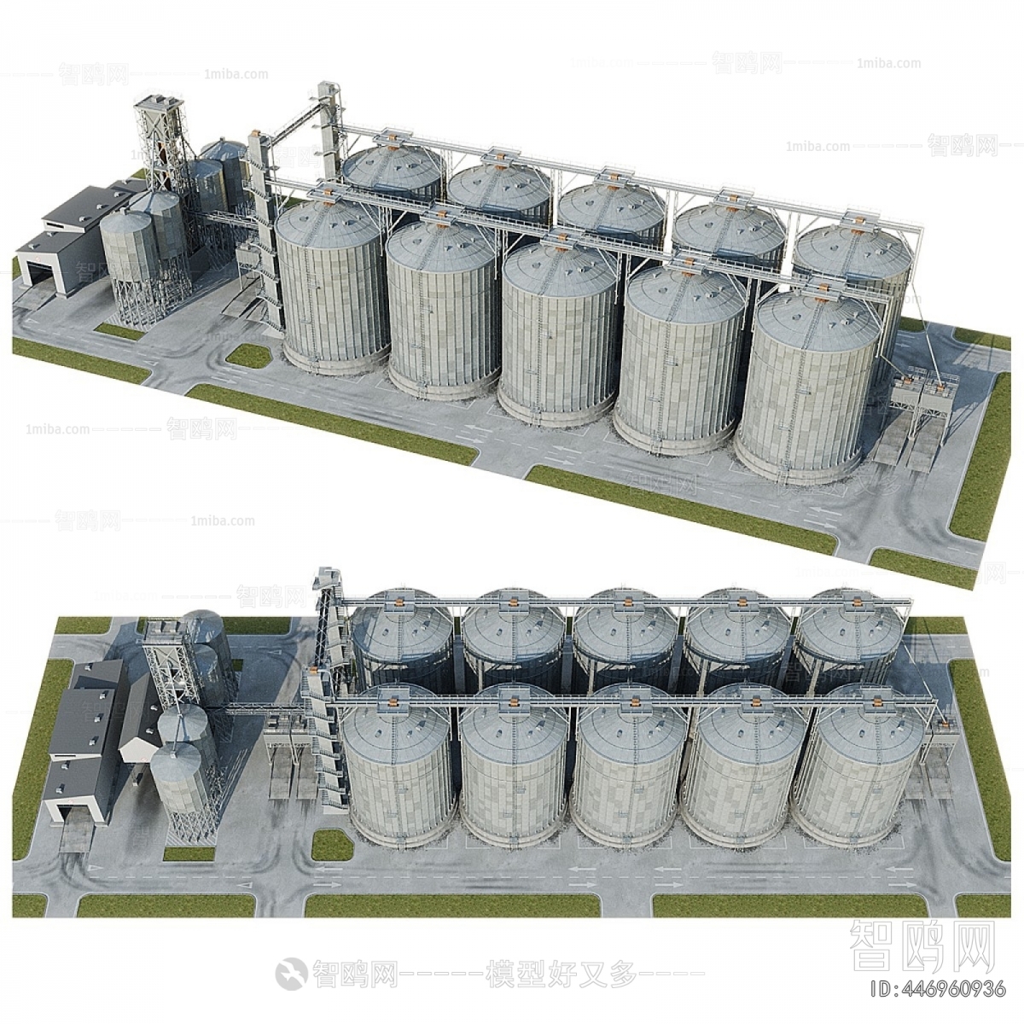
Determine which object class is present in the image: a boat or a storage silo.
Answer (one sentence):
Looking from above, you can make out a storage silo.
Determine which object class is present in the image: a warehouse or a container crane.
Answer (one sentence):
The one in the frame is a warehouse.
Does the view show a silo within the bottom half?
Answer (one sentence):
Yes, a silo is visible within the bottom half.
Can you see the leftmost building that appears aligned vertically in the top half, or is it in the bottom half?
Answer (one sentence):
It is in the bottom half that the leftmost building that appears aligned vertically appears.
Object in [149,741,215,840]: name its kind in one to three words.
silo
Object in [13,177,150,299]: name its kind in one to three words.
warehouse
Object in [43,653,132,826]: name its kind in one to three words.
building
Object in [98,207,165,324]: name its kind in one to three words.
silo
